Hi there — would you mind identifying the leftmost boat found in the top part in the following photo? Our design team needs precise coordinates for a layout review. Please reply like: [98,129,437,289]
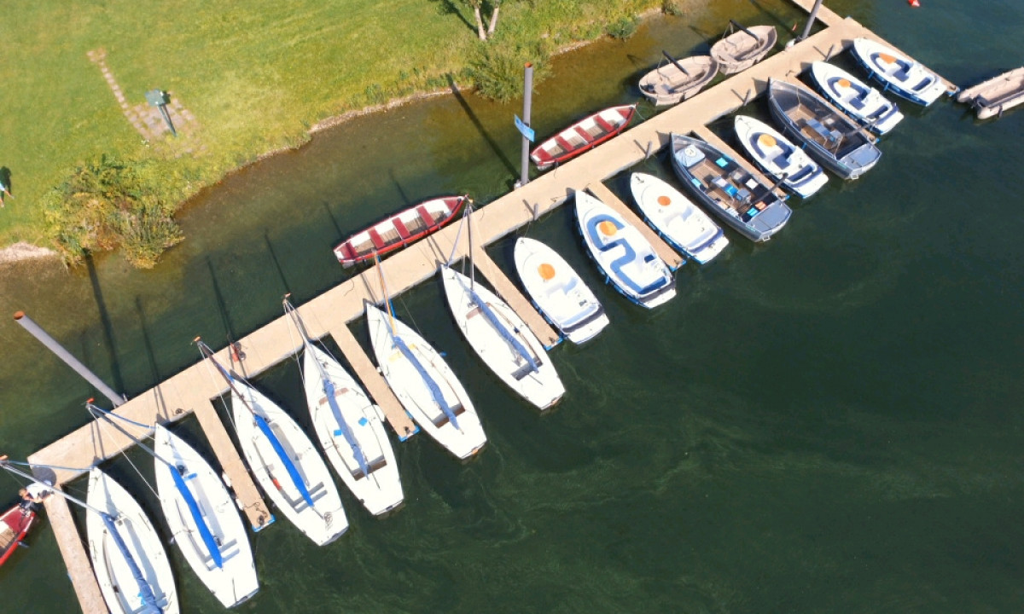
[333,194,479,271]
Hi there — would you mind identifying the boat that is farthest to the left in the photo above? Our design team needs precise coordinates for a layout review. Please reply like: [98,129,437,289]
[0,498,46,575]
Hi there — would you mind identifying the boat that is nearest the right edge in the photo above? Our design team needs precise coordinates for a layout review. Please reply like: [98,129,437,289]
[948,65,1024,122]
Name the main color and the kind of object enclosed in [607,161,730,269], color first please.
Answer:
white boat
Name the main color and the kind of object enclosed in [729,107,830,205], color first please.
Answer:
white boat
